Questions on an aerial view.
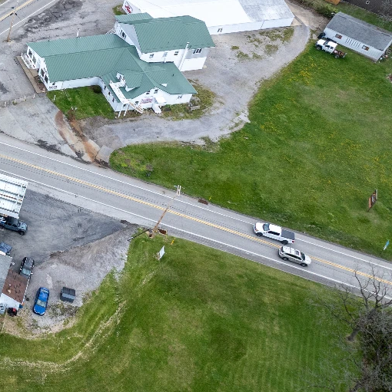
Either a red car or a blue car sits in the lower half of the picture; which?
blue car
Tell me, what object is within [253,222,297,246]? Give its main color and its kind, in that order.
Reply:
white truck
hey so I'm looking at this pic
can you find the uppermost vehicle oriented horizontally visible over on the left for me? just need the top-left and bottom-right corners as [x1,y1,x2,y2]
[0,216,29,233]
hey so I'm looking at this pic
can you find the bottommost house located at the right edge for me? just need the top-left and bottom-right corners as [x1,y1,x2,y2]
[320,12,392,59]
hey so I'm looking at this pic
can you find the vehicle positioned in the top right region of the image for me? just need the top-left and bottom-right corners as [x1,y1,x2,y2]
[315,41,350,56]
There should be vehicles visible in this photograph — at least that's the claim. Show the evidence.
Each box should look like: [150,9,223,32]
[315,41,350,56]
[18,249,36,278]
[253,222,297,246]
[278,242,315,267]
[33,284,52,315]
[0,216,29,233]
